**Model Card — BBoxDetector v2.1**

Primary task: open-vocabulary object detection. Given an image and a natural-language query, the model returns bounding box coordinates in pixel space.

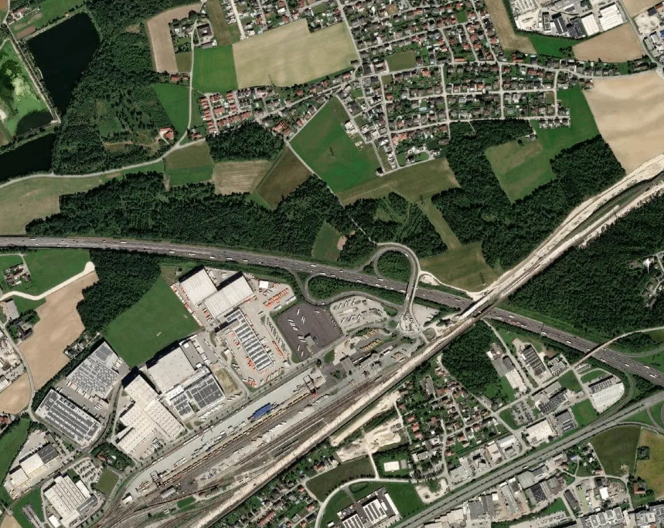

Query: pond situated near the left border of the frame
[0,41,56,136]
